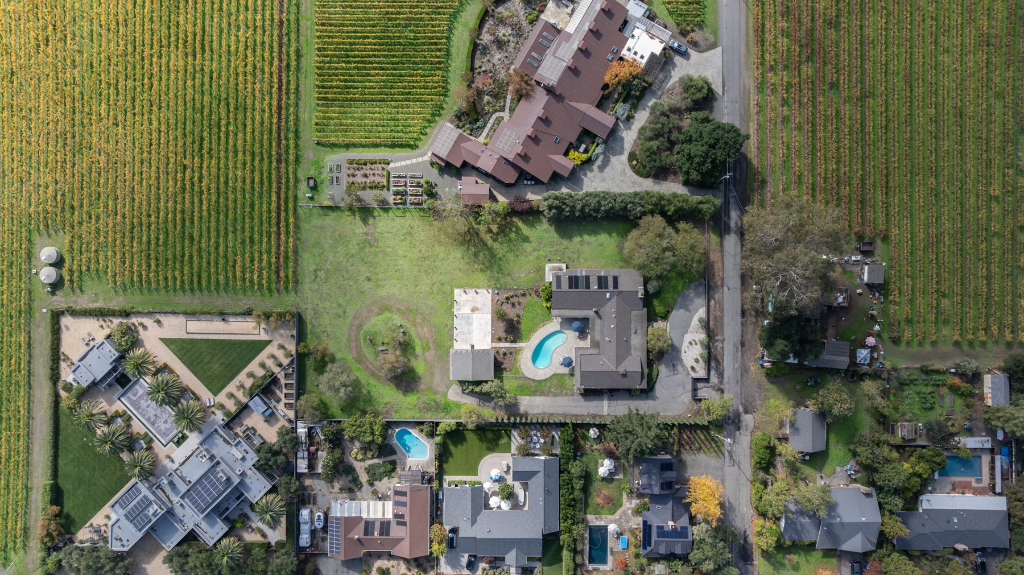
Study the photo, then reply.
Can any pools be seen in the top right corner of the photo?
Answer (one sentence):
No, looking in the top right corner of the photo, there is no pool.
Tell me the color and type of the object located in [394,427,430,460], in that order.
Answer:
blue swimming pool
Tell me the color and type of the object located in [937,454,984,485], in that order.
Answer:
blue swimming pool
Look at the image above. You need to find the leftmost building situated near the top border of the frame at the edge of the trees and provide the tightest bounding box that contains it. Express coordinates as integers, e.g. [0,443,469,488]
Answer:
[487,0,629,183]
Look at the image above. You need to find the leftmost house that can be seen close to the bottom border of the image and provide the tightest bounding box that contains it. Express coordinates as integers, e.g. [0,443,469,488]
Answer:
[109,423,276,551]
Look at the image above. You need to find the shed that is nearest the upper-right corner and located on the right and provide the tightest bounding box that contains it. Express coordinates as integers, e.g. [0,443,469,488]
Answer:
[862,265,884,283]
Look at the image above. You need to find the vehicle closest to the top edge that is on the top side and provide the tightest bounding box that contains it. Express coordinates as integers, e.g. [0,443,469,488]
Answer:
[669,38,688,52]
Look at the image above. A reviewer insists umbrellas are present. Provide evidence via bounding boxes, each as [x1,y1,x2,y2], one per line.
[603,457,614,469]
[608,522,619,533]
[864,336,874,346]
[483,481,493,491]
[588,427,599,437]
[562,356,572,367]
[598,466,608,476]
[571,321,582,332]
[490,467,500,477]
[489,496,500,506]
[500,499,511,510]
